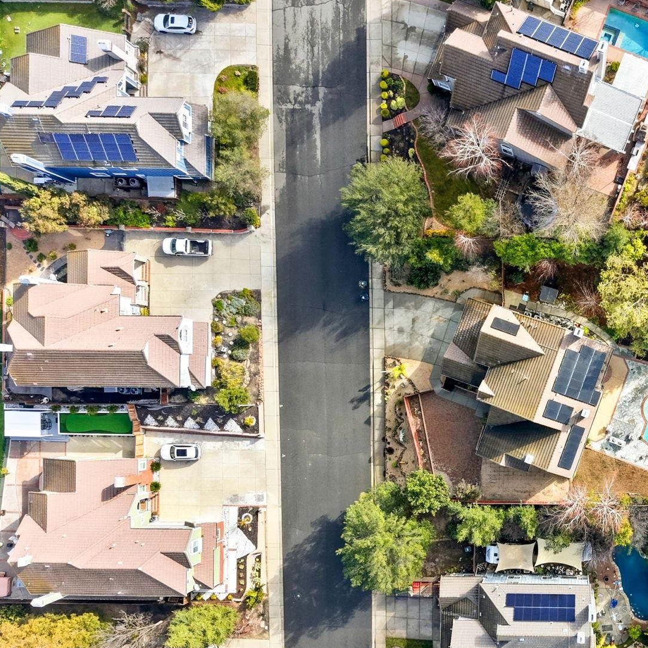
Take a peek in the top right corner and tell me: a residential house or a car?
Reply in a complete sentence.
The one visible in the top right corner is a residential house.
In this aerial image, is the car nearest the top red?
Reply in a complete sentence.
No, the color of the car nearest the top is white.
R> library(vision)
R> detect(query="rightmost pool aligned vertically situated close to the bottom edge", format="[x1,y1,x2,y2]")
[610,542,648,622]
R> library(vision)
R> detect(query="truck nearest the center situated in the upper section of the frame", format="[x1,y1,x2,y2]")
[161,236,213,257]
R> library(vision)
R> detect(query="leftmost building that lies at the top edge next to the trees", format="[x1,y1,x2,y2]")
[0,24,212,183]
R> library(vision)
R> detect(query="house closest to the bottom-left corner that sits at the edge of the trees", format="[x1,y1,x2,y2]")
[8,459,222,610]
